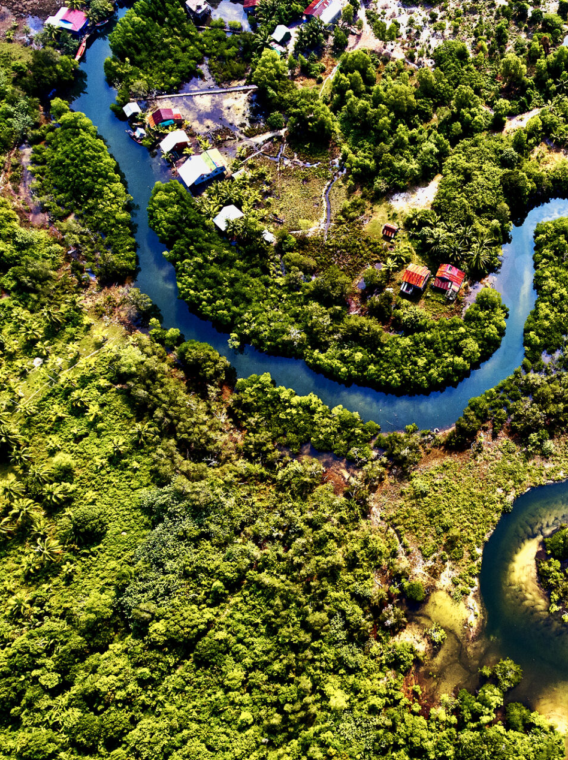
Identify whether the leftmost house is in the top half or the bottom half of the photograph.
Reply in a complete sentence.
The top half of the photo is where the leftmost house is.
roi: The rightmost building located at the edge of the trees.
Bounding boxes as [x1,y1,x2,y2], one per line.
[434,264,466,299]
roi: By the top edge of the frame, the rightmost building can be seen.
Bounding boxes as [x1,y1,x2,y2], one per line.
[301,0,341,29]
